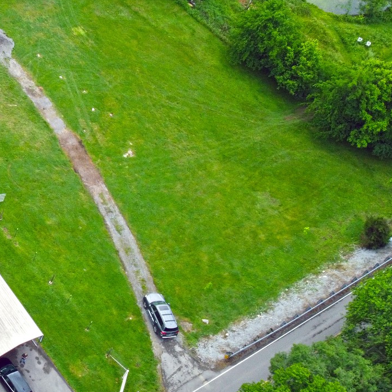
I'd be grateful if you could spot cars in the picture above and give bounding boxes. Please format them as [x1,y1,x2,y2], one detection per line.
[141,292,179,340]
[0,354,33,392]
